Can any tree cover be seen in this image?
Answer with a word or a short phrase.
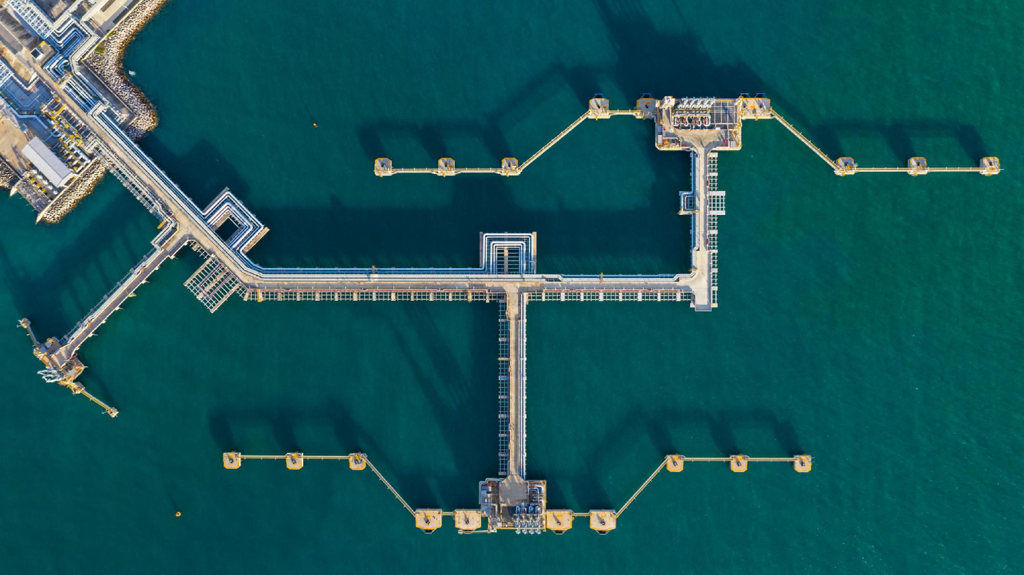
No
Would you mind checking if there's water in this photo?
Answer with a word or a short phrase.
Yes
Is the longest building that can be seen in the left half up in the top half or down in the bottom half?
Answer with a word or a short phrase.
top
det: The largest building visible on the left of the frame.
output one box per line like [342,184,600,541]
[22,137,77,188]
